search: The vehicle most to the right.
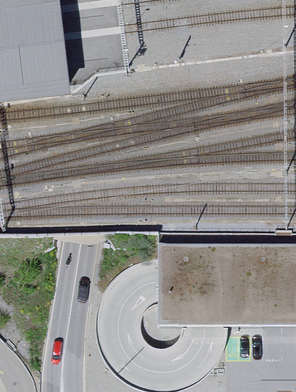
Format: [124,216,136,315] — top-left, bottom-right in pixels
[251,333,263,359]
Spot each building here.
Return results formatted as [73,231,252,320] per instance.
[0,0,70,102]
[158,243,296,329]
